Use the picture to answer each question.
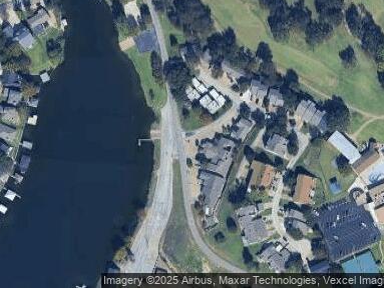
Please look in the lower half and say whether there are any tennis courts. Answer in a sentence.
Yes, there is a tennis court in the lower half.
